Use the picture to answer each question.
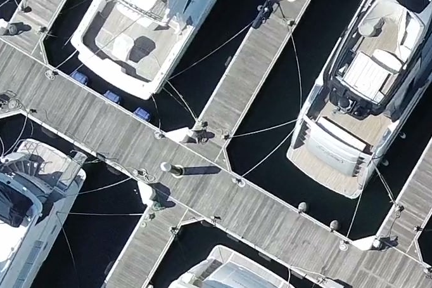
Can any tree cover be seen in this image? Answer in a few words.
No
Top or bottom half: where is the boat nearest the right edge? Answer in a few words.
top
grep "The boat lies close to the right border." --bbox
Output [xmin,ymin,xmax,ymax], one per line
[287,0,432,199]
